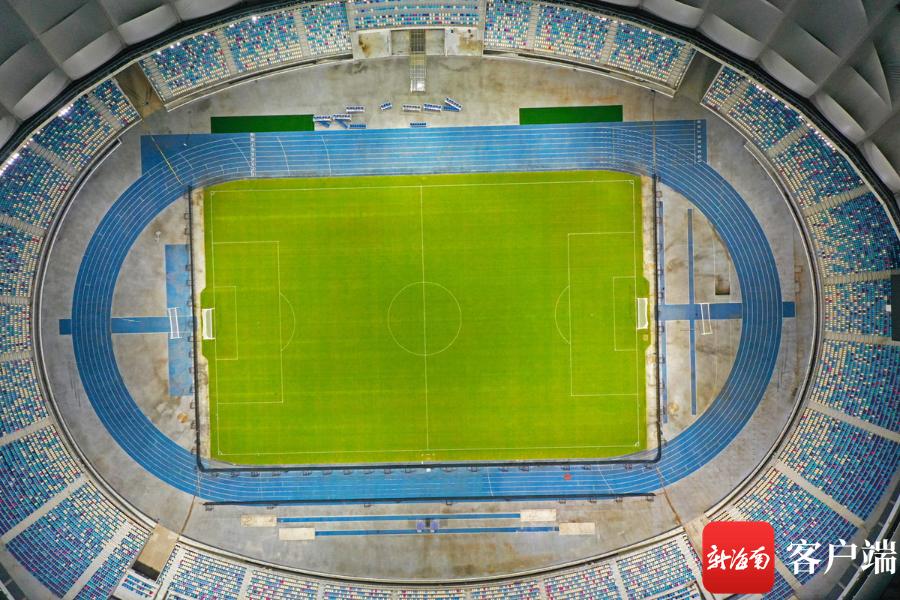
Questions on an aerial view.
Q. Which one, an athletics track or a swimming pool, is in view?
athletics track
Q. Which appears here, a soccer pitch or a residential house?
soccer pitch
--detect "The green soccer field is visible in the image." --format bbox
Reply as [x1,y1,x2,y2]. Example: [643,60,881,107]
[191,169,660,467]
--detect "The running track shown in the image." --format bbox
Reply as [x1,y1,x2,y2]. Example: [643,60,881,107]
[69,119,782,510]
